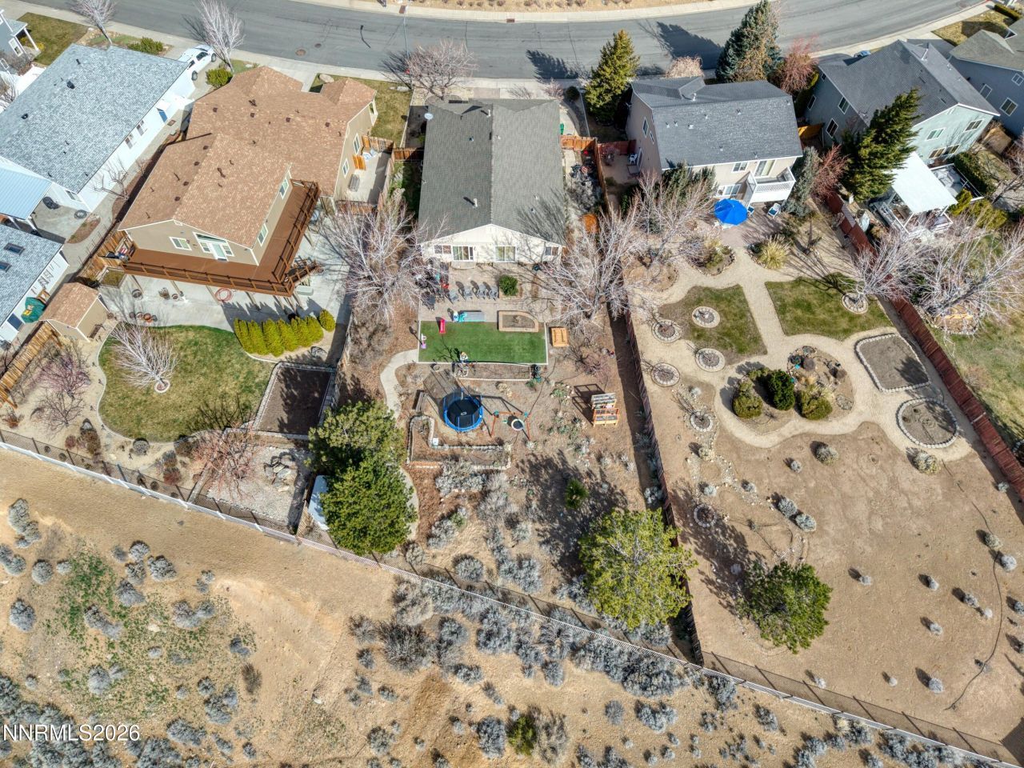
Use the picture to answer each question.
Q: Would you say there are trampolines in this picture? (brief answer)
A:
Yes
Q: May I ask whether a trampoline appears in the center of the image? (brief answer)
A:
Yes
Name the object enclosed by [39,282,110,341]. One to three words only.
shed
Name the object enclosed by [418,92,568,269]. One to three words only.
house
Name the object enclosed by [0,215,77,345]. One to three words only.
house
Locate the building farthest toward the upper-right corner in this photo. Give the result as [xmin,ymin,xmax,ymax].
[947,3,1024,123]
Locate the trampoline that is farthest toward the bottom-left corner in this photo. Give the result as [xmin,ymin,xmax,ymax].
[442,387,484,434]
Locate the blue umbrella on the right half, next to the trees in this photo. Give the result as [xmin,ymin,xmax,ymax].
[712,200,745,230]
